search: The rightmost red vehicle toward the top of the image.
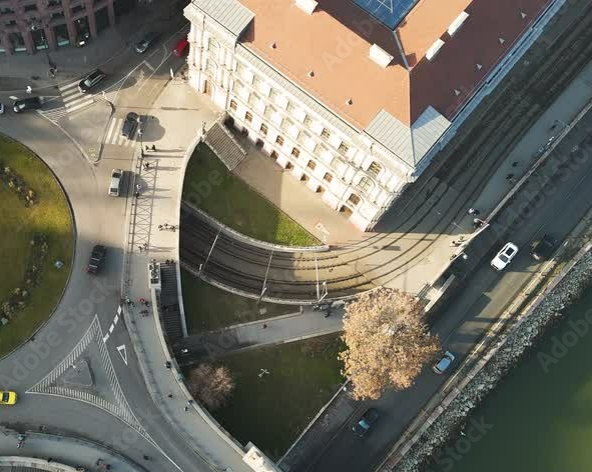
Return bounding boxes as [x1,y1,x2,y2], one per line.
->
[172,32,190,55]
